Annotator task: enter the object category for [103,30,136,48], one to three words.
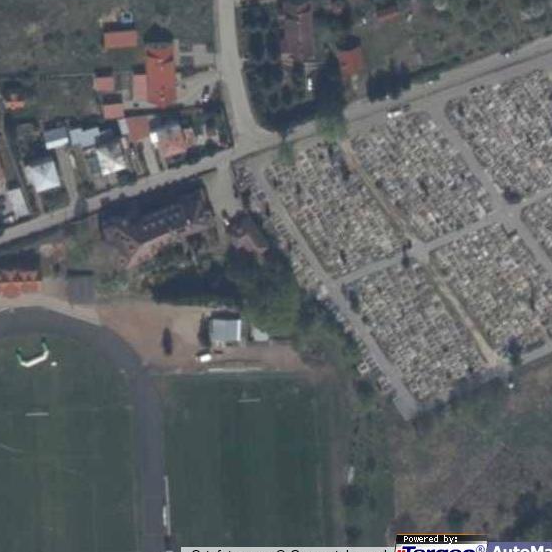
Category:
shed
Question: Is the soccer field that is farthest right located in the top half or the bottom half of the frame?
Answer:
bottom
